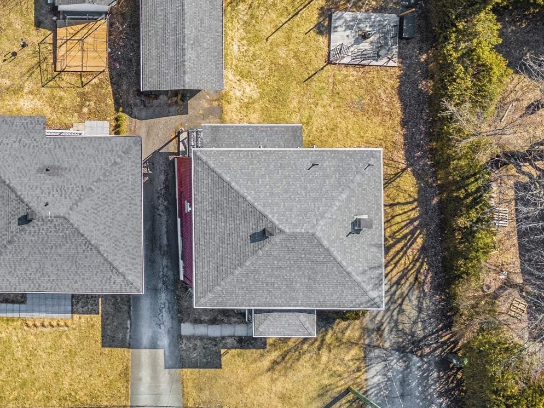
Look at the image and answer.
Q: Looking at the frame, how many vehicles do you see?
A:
0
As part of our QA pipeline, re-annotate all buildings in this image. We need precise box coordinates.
[138,0,225,90]
[0,116,145,293]
[172,124,386,338]
[55,0,116,11]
